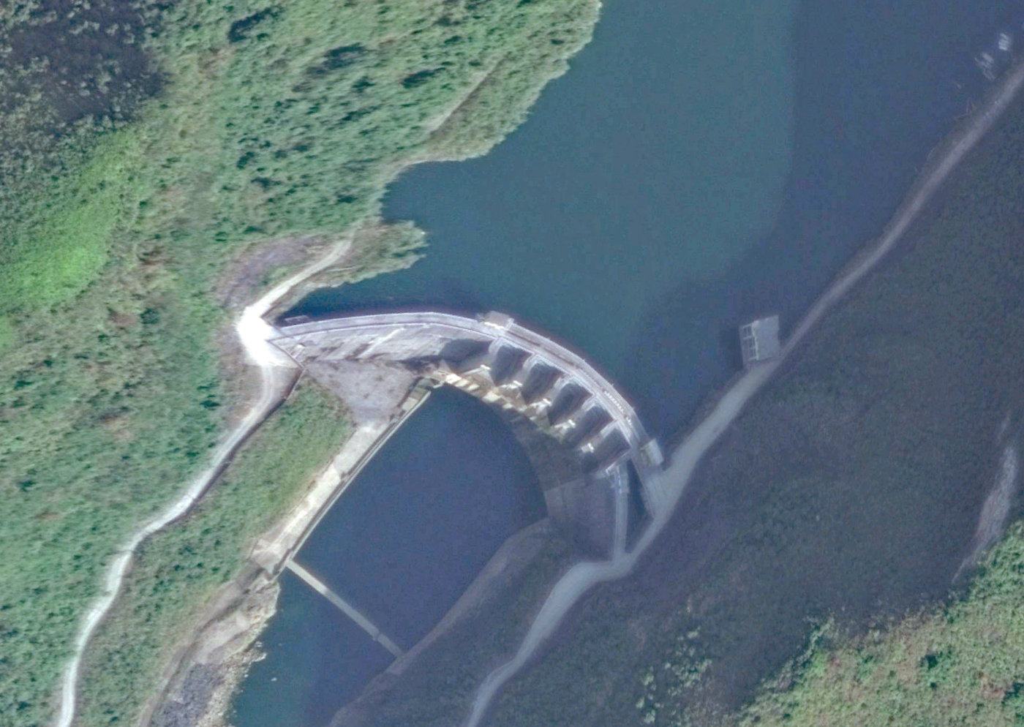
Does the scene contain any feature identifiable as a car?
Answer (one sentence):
No, I can't see a single car in this photo.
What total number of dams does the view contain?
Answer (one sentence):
Looking from above, you can make out 2 dams.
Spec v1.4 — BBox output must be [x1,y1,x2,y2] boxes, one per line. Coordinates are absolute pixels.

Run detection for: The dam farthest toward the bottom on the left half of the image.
[283,557,404,656]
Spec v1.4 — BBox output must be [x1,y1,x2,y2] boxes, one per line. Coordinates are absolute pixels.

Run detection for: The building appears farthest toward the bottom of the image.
[645,439,667,465]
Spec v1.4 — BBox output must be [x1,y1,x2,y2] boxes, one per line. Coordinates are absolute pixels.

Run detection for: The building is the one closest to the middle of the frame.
[483,311,510,330]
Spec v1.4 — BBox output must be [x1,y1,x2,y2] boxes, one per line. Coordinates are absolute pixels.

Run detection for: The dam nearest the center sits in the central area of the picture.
[274,312,665,556]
